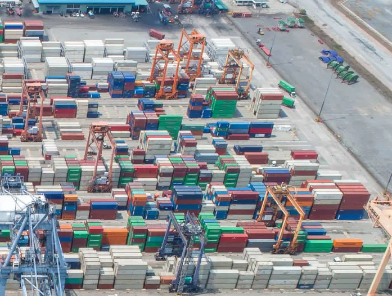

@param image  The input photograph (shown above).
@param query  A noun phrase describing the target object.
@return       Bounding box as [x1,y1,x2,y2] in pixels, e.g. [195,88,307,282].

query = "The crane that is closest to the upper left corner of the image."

[16,84,45,141]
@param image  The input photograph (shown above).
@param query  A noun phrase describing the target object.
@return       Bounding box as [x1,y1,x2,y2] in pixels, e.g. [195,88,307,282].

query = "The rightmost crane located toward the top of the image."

[220,46,260,98]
